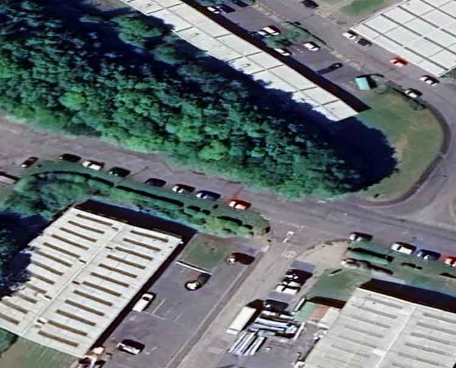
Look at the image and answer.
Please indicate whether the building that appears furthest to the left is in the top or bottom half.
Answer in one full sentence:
The building that appears furthest to the left is in the bottom half of the image.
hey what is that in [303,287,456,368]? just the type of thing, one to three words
building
